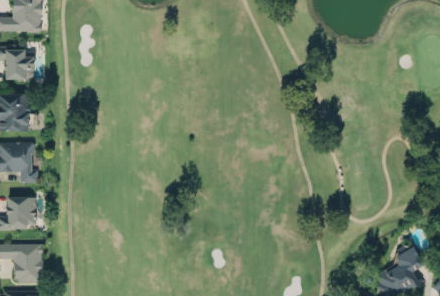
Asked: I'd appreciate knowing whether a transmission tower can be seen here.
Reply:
No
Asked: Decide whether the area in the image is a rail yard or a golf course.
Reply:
golf course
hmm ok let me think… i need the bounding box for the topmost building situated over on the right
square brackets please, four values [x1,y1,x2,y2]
[386,244,431,279]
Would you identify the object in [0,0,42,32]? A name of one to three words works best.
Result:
house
